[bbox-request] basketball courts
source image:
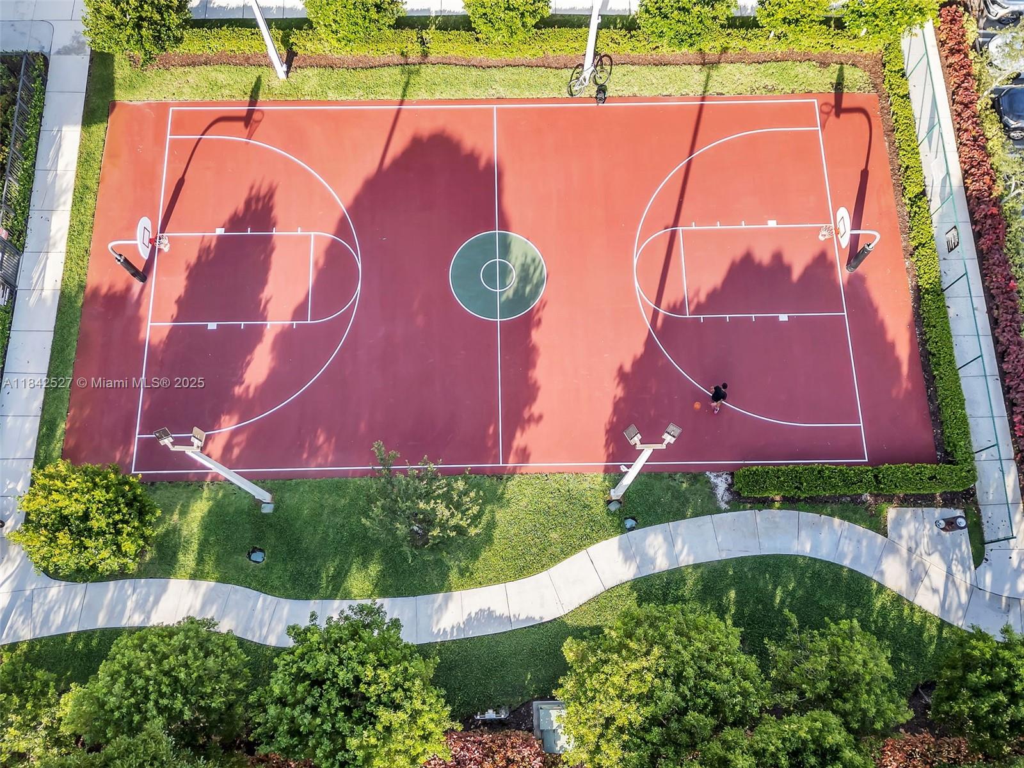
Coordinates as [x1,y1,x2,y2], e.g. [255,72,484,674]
[60,93,937,483]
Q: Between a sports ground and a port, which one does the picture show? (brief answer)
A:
sports ground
